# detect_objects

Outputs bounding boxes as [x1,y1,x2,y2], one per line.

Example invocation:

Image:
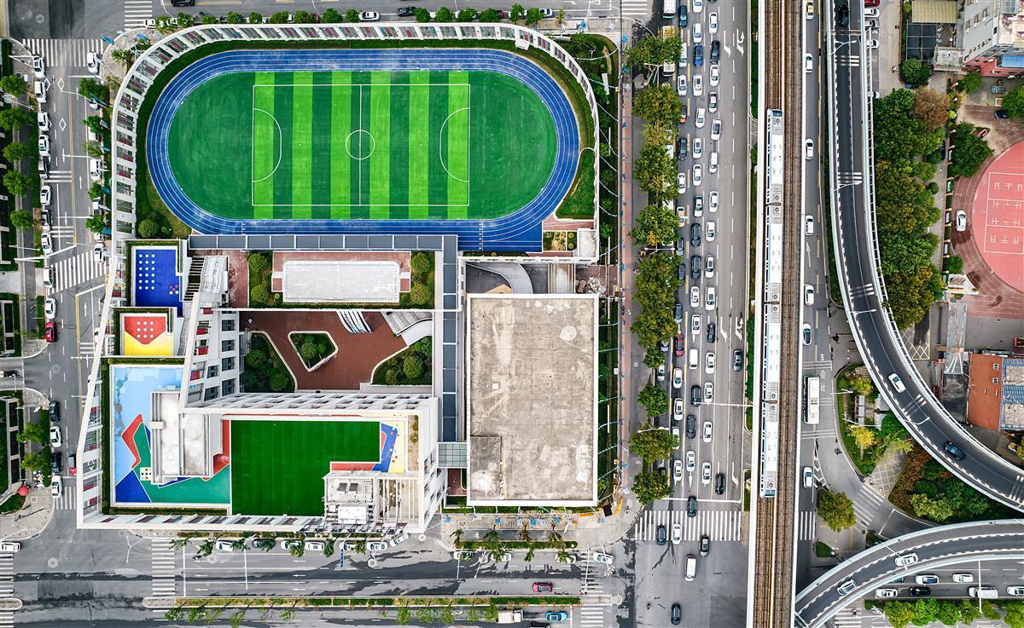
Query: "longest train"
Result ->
[758,110,780,496]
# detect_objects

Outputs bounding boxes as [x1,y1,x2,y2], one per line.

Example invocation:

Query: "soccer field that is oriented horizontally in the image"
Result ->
[168,70,557,219]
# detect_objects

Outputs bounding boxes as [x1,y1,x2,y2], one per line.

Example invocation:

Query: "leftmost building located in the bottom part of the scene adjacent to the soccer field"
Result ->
[76,240,438,532]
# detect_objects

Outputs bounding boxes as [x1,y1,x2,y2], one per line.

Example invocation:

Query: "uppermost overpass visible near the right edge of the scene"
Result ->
[824,0,1024,512]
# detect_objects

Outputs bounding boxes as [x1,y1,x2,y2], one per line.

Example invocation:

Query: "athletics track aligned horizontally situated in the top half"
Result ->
[144,46,581,252]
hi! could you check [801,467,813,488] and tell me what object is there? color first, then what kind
white vehicle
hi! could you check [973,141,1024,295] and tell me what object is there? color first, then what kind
pink sports court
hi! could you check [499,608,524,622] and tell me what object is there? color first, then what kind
white vehicle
